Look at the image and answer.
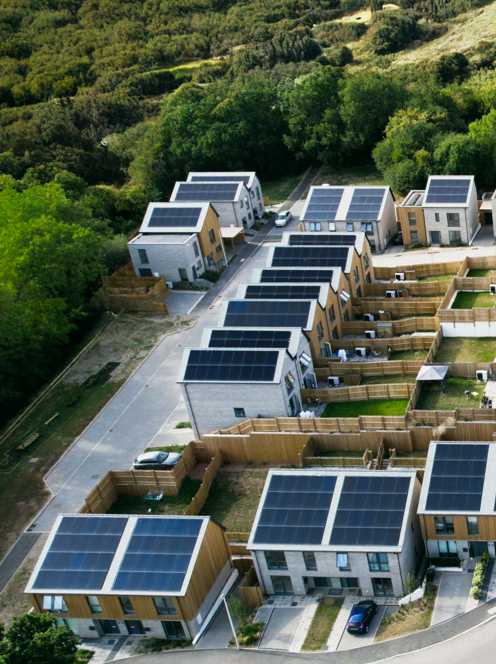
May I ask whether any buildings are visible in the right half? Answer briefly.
Yes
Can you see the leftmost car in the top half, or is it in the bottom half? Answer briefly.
bottom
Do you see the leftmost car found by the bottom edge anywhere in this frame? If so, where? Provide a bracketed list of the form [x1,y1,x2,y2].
[342,593,381,637]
